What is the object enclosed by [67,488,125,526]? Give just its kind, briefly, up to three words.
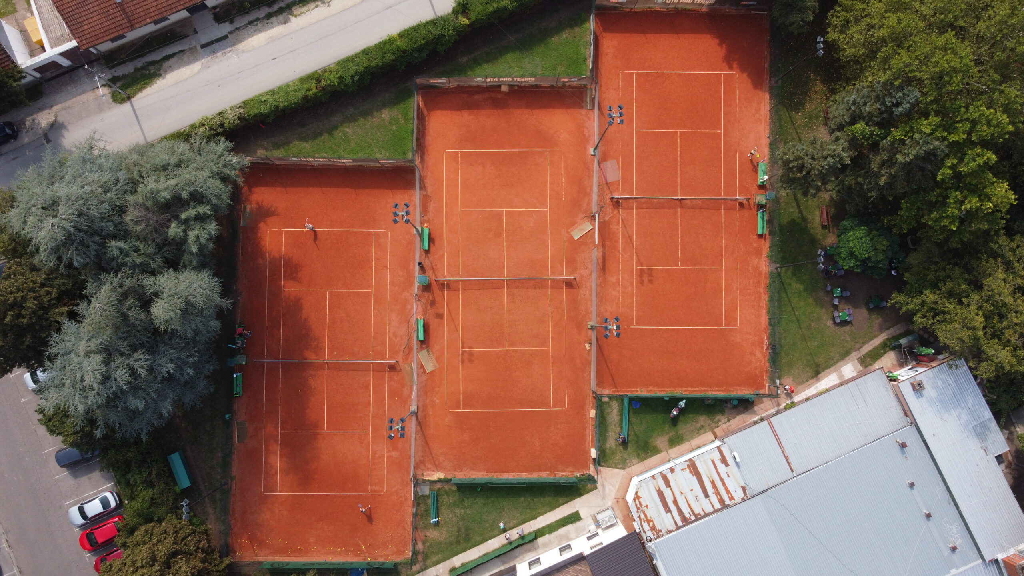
car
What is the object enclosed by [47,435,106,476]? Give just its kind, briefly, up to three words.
vehicle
